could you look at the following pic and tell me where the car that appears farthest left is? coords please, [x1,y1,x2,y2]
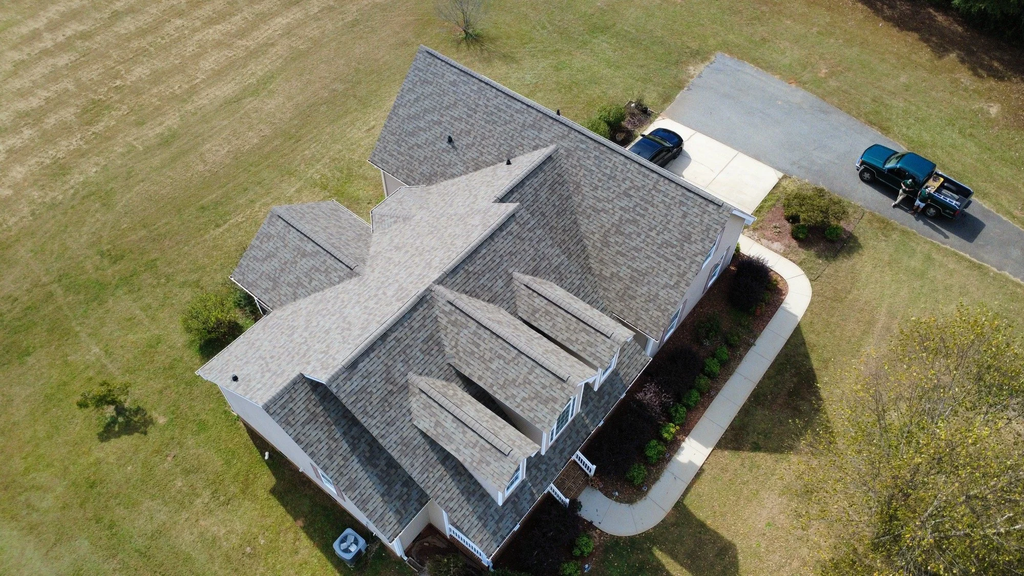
[628,124,684,166]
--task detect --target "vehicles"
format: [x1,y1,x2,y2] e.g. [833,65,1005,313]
[628,124,684,166]
[851,145,975,221]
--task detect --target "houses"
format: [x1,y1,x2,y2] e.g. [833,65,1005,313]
[194,45,758,576]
